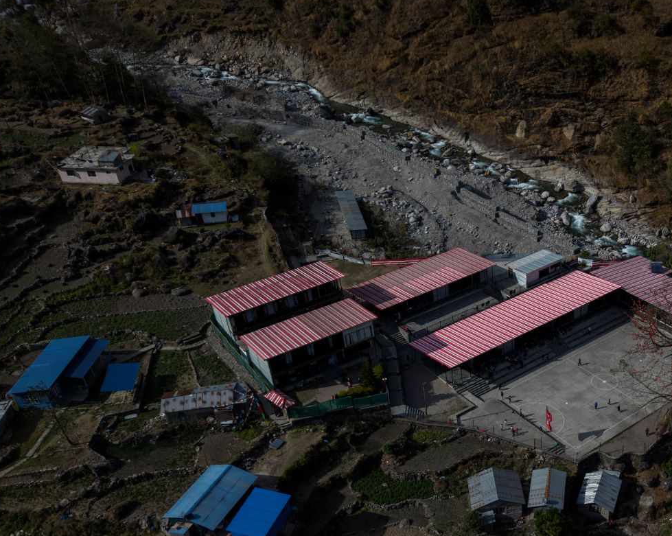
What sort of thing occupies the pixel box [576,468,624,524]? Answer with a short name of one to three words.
shed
